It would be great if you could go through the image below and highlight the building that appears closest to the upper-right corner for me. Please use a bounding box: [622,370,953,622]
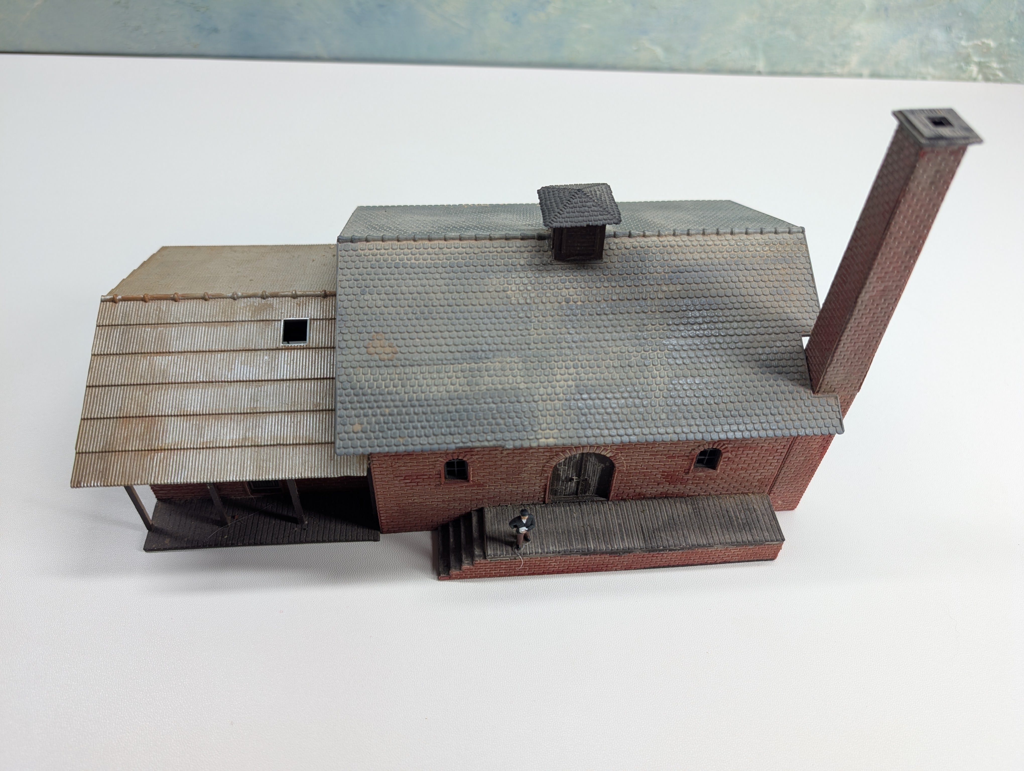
[334,109,985,533]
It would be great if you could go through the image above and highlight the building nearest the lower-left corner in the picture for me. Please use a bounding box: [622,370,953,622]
[70,243,380,551]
